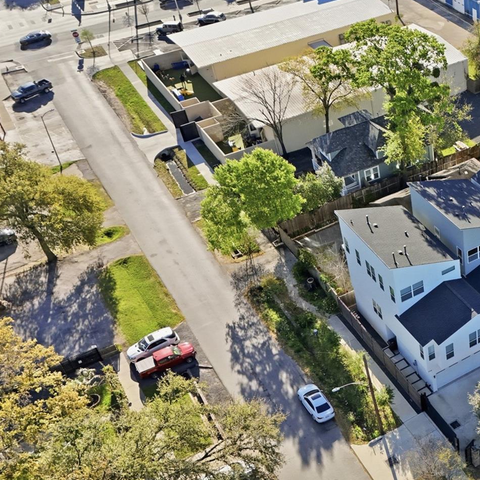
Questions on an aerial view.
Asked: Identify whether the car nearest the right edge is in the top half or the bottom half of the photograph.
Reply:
bottom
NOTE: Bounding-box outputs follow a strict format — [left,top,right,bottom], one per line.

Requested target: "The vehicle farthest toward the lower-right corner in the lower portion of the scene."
[294,380,337,424]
